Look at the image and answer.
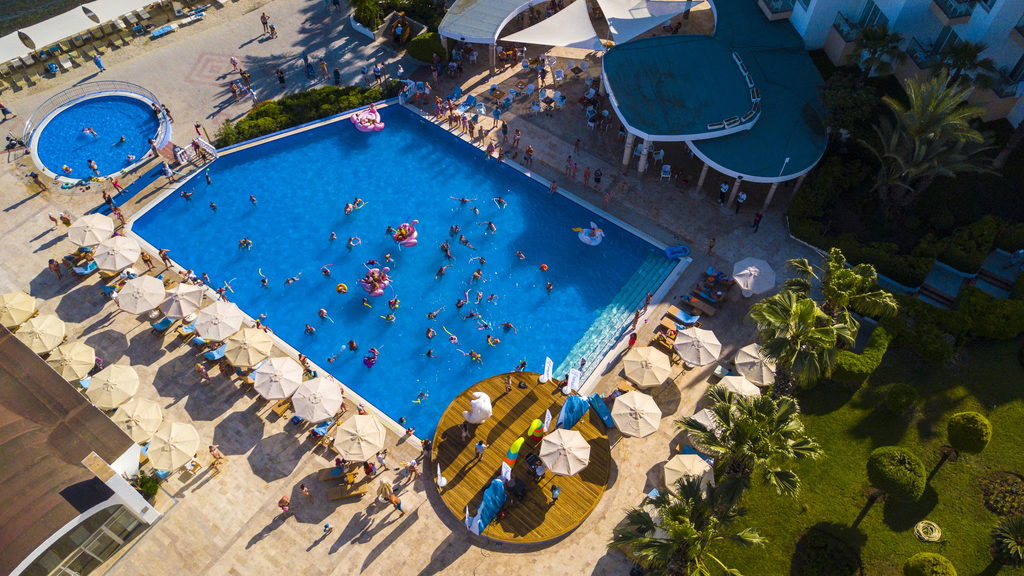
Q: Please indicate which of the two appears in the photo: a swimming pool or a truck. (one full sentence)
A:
The one in the frame is a swimming pool.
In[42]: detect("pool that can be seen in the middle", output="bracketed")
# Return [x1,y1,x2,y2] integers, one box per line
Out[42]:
[132,104,680,437]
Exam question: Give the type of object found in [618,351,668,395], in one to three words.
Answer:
umbrella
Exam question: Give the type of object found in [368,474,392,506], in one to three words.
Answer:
umbrella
